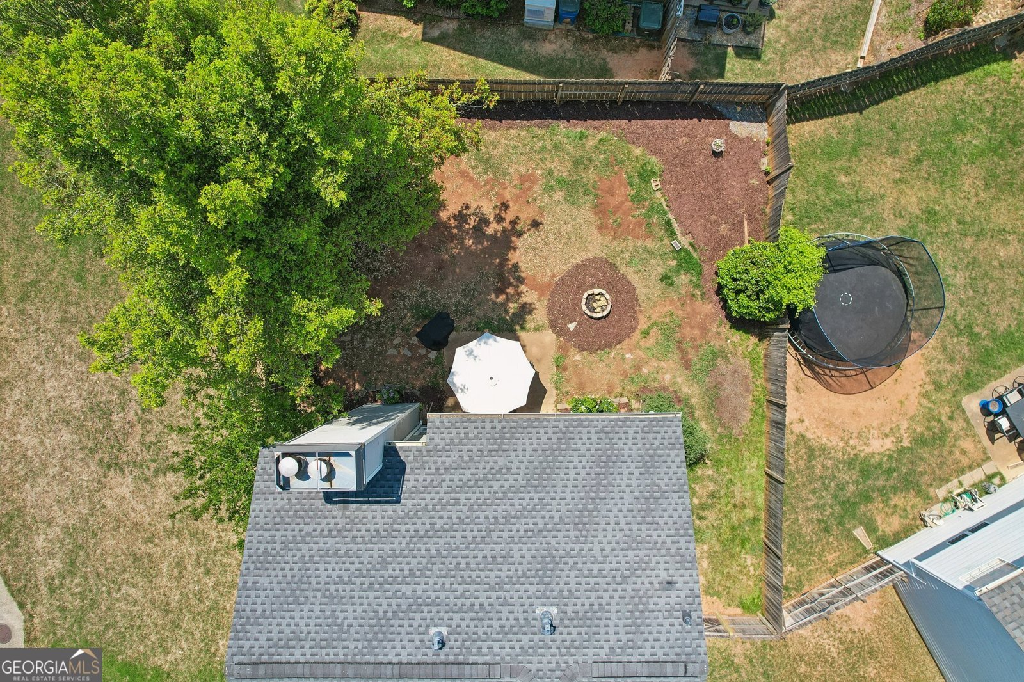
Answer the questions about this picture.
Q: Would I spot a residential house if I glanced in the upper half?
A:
No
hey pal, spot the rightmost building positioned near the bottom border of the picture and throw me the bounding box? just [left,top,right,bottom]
[877,475,1024,682]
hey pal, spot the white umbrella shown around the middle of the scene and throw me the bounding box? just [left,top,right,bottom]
[446,332,537,409]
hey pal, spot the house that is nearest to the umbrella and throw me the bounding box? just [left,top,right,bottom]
[226,406,707,682]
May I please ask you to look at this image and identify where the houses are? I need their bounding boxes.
[226,406,707,682]
[877,475,1024,682]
